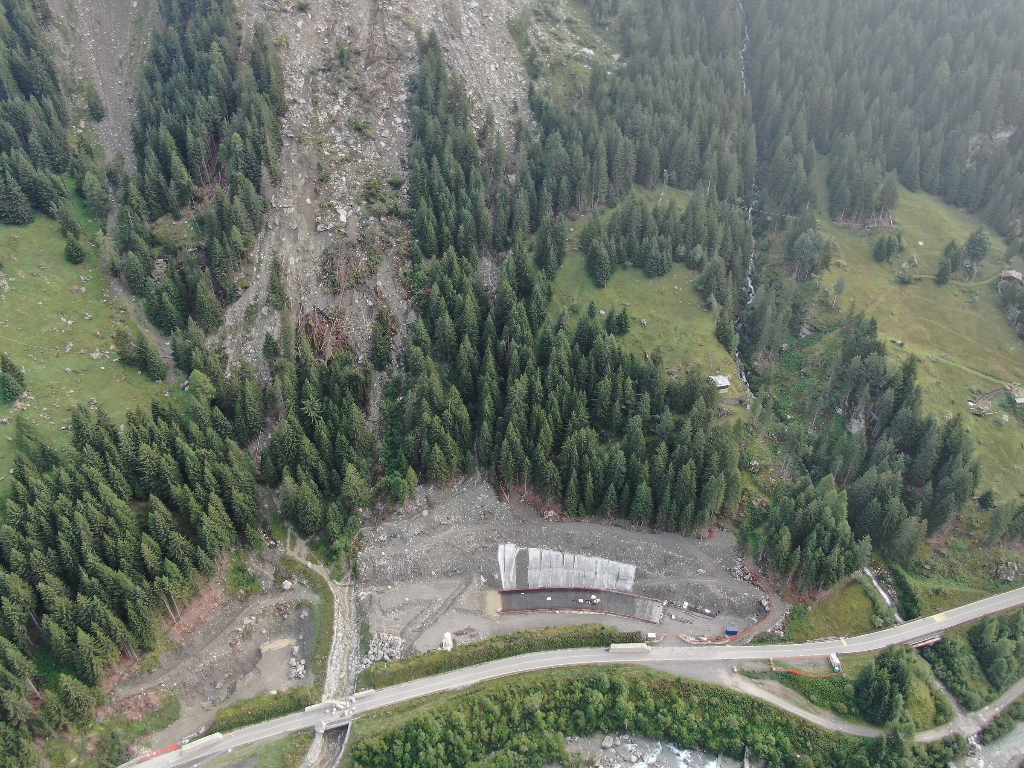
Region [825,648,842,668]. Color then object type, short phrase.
white vehicle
